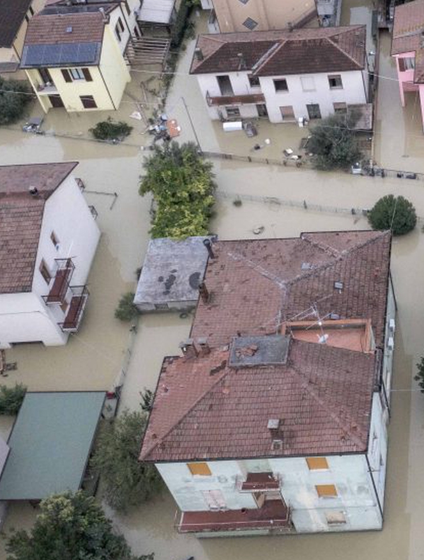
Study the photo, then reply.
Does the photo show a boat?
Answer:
No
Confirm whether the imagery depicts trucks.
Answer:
No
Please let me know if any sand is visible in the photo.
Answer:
No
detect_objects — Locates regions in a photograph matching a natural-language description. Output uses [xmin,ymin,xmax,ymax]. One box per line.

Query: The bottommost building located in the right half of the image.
[137,229,400,536]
